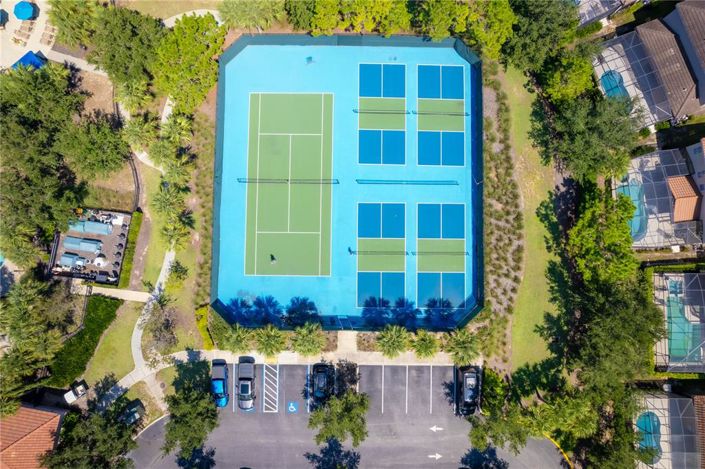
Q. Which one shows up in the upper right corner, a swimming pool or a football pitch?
swimming pool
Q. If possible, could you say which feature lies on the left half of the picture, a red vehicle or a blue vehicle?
blue vehicle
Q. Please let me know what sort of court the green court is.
tennis court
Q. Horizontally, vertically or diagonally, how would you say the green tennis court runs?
vertically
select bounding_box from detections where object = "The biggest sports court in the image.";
[218,45,477,328]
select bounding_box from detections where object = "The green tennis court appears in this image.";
[244,92,333,276]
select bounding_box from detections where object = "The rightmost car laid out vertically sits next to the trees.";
[458,368,478,414]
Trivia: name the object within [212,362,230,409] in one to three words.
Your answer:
vehicle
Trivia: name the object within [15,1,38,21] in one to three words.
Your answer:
umbrella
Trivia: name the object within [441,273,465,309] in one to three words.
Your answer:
sports court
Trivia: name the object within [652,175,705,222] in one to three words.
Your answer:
house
